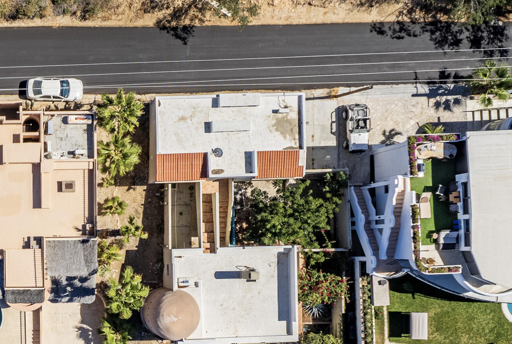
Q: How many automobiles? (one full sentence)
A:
The count of automobiles comes to 2.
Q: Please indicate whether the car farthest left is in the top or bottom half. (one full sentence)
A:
The car farthest left sits in the top half of the picture.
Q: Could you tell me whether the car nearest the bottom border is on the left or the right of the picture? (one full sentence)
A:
The car nearest the bottom border sits on the right side.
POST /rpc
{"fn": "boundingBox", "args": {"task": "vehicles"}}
[28,76,82,102]
[342,103,372,154]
